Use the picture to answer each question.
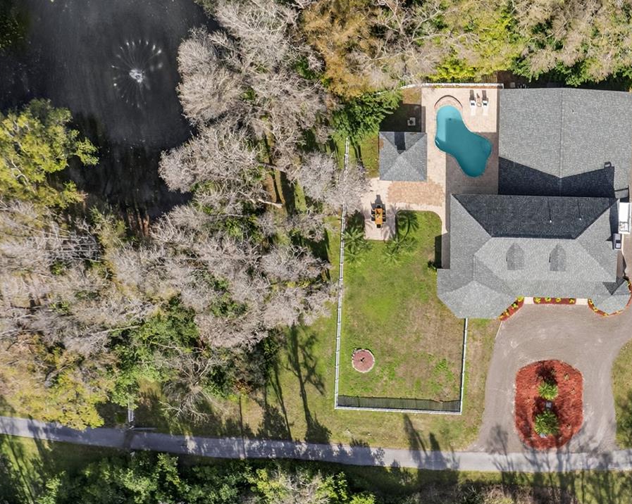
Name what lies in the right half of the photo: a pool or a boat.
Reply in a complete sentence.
It is a pool that can be seen in the right half of the photo.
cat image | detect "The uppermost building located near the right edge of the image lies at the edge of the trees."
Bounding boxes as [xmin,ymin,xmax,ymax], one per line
[498,88,632,201]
